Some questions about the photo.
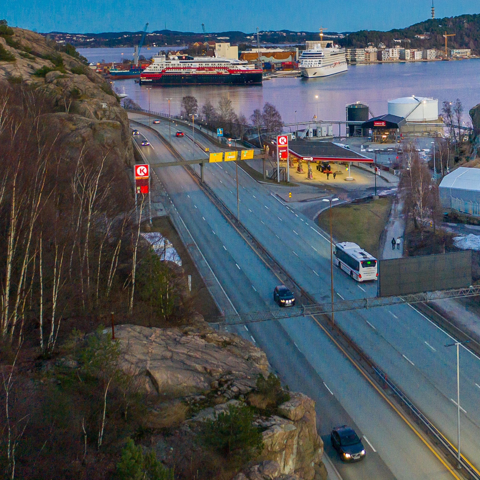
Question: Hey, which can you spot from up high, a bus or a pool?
bus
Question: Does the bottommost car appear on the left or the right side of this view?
right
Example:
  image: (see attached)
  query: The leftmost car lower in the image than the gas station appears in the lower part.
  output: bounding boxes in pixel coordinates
[273,283,295,305]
